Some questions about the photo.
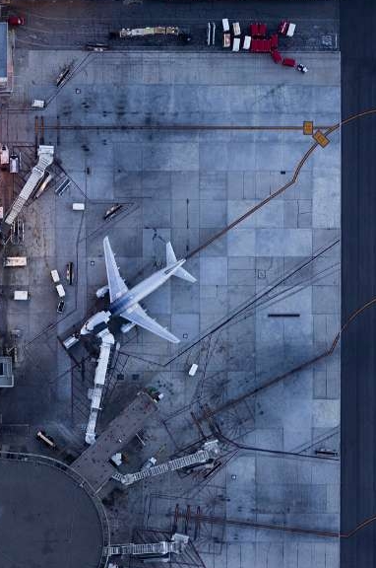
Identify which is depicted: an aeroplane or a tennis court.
aeroplane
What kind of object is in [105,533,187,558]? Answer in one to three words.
jet bridge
